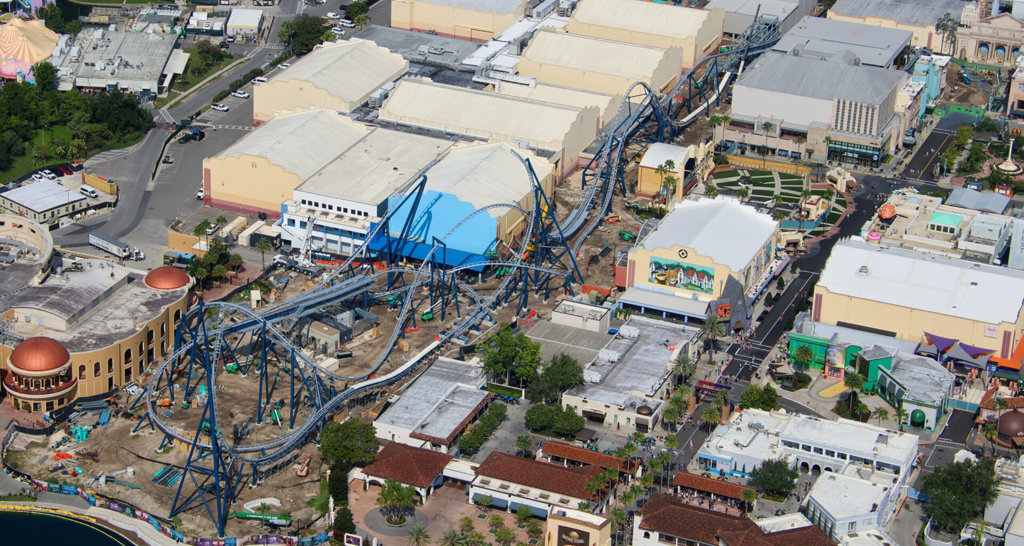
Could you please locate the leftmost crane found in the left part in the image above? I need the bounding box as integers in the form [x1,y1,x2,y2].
[275,220,322,276]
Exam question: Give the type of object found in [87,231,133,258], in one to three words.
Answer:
trailer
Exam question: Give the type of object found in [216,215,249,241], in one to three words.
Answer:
shipping container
